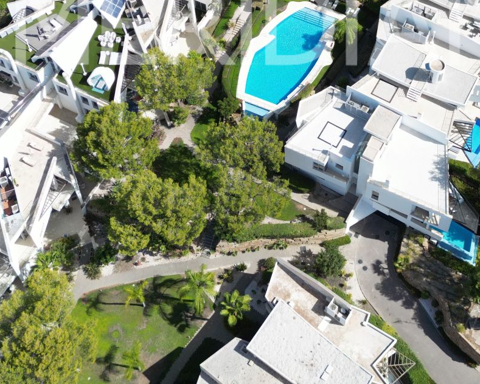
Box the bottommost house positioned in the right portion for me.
[196,260,416,384]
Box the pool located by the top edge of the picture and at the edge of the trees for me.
[243,6,340,107]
